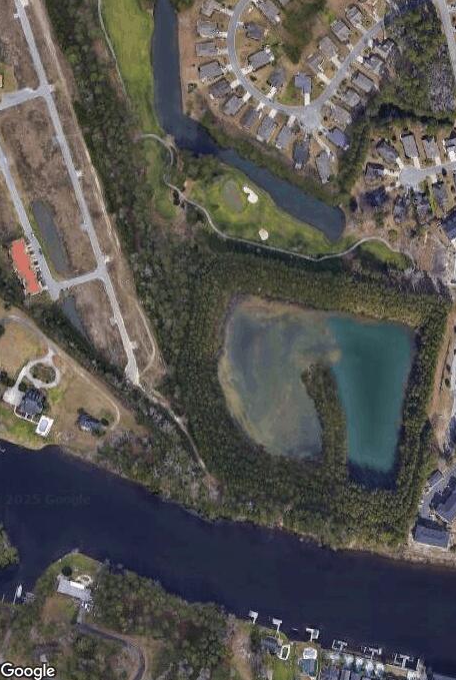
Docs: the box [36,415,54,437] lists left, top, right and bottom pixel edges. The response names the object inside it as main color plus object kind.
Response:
white swimming pool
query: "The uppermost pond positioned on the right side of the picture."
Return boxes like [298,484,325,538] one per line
[219,296,413,490]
